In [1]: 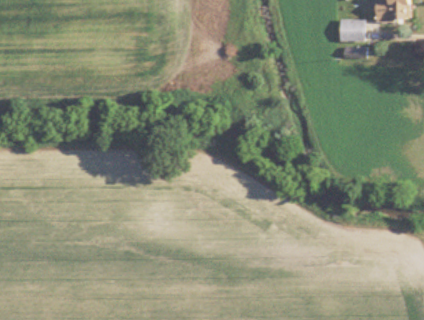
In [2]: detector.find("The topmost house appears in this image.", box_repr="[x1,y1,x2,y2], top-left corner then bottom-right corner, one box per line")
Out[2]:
[374,0,412,24]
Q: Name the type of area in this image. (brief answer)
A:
farmland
